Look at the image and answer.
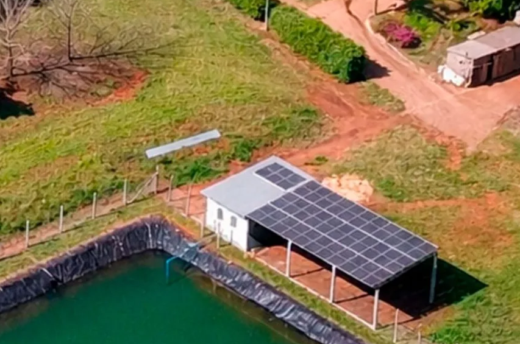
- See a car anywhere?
No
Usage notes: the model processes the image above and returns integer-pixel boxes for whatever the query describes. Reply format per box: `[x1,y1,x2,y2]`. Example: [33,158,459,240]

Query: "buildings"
[451,23,520,87]
[200,151,446,329]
